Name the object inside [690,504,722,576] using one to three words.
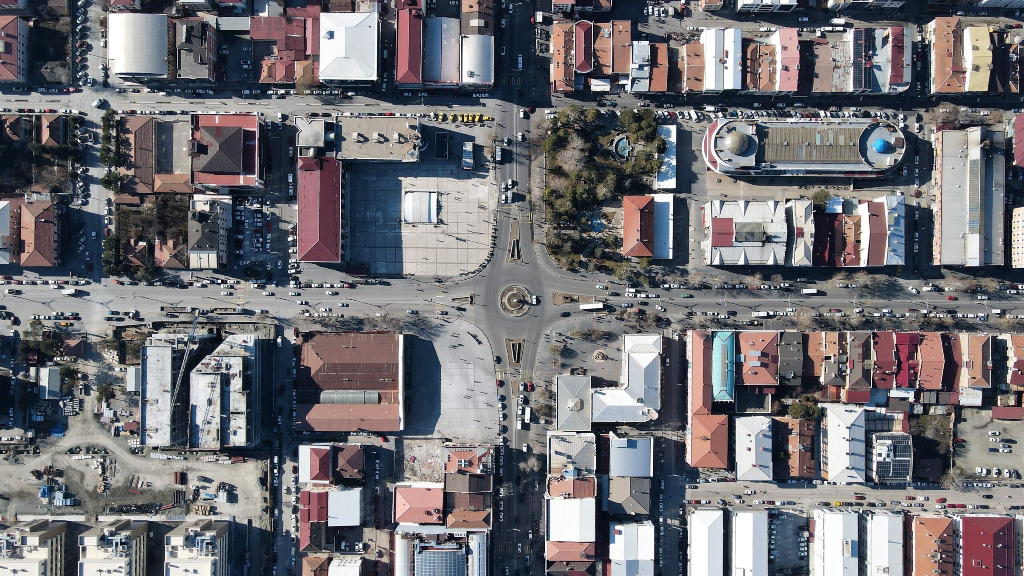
building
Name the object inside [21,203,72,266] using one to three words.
building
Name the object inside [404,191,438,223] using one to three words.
tent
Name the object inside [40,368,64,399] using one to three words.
shed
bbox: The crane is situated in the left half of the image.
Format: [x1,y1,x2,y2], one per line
[153,307,215,470]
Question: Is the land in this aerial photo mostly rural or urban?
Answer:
urban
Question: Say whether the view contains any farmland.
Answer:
No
